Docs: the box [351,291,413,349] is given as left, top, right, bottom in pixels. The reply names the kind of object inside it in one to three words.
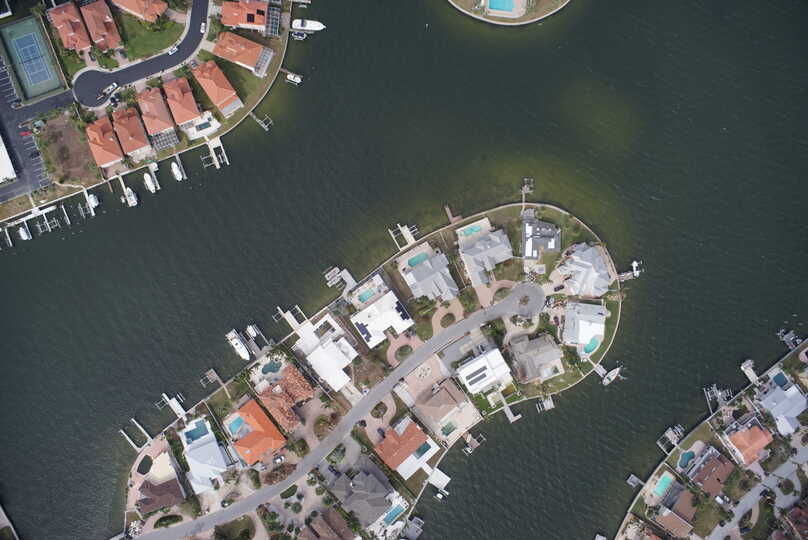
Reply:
house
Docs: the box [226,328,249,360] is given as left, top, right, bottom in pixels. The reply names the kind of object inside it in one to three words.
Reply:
boat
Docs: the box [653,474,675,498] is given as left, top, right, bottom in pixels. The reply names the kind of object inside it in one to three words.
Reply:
swimming pool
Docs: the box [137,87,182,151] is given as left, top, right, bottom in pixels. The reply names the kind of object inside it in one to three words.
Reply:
house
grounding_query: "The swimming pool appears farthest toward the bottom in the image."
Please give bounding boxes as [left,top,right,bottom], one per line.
[383,504,405,527]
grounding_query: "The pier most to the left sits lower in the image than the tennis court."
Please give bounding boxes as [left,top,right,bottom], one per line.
[0,205,58,247]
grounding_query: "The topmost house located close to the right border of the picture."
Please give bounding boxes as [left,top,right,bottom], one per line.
[761,384,806,436]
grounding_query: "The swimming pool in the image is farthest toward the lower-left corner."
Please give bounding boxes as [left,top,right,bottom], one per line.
[137,454,153,475]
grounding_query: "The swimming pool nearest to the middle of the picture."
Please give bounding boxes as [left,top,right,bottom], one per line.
[407,251,429,268]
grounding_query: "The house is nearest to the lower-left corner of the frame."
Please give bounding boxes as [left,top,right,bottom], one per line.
[138,451,186,514]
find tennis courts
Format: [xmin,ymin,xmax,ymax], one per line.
[2,19,62,98]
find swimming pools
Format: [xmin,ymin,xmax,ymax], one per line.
[407,251,429,268]
[261,360,282,374]
[653,474,675,498]
[488,0,516,13]
[357,287,375,304]
[415,442,432,459]
[441,422,458,437]
[678,451,696,469]
[195,121,212,132]
[772,372,790,388]
[184,418,211,443]
[462,224,482,235]
[137,454,153,475]
[228,416,245,435]
[583,336,600,354]
[383,504,405,527]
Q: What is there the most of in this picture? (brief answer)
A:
water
